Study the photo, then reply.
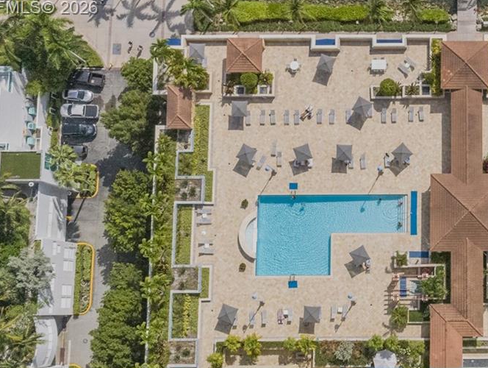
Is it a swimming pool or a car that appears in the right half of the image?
swimming pool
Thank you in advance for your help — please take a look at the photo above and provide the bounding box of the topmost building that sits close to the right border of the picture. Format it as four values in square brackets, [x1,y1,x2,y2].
[440,41,488,90]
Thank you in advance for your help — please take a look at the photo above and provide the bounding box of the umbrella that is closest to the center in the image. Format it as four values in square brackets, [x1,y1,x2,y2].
[234,141,258,164]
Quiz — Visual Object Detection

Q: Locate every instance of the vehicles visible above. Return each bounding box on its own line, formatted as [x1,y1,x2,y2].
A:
[63,87,95,103]
[65,143,94,159]
[60,102,101,120]
[69,70,110,89]
[61,122,99,138]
